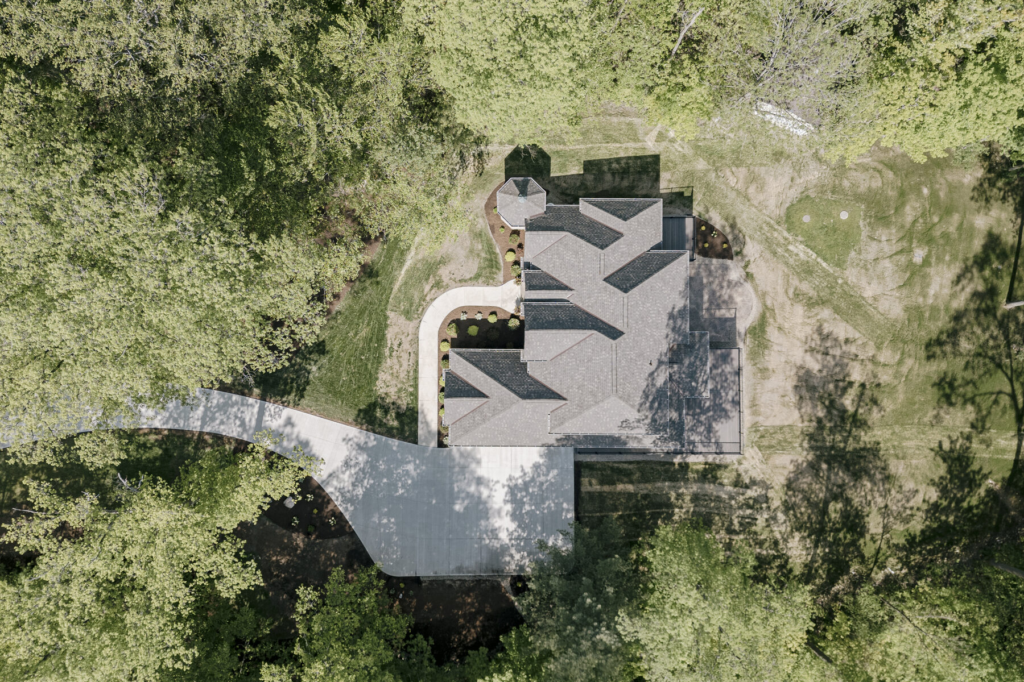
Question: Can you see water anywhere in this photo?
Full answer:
No, water can't be seen anywhere here.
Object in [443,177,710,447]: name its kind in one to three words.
house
